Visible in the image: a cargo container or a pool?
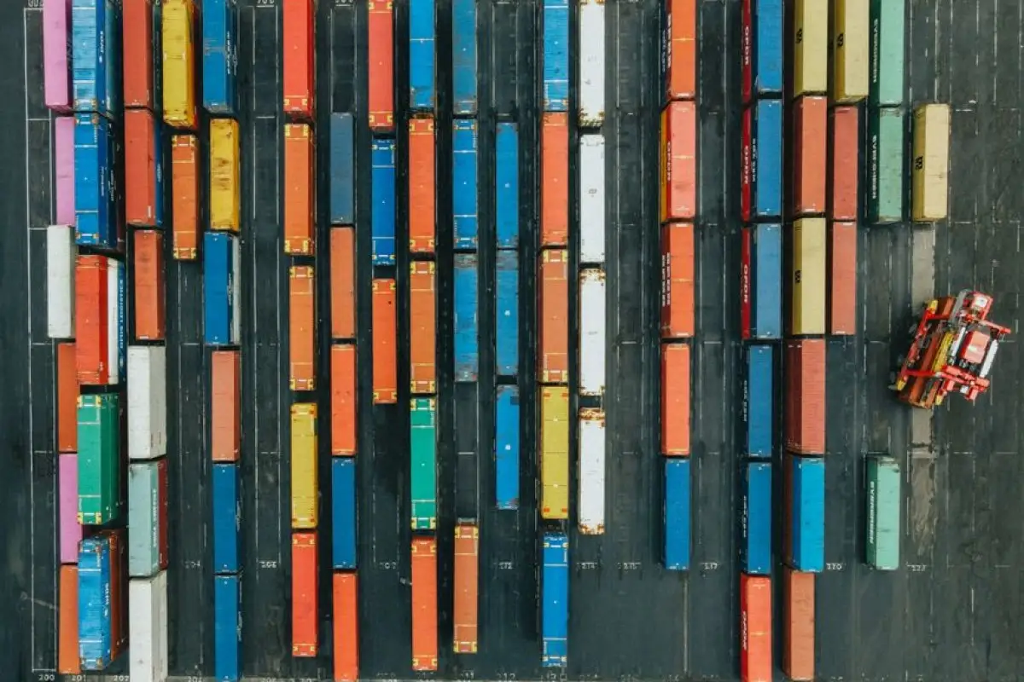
cargo container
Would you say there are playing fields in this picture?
No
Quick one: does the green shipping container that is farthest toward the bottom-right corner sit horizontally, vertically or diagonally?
vertically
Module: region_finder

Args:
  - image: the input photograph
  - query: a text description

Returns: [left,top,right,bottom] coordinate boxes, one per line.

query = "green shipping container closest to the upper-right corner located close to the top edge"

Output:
[870,0,904,110]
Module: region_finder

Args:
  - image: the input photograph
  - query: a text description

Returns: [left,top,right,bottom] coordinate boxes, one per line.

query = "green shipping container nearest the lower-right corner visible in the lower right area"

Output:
[867,457,900,571]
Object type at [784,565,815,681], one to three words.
shipping container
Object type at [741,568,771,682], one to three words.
shipping container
